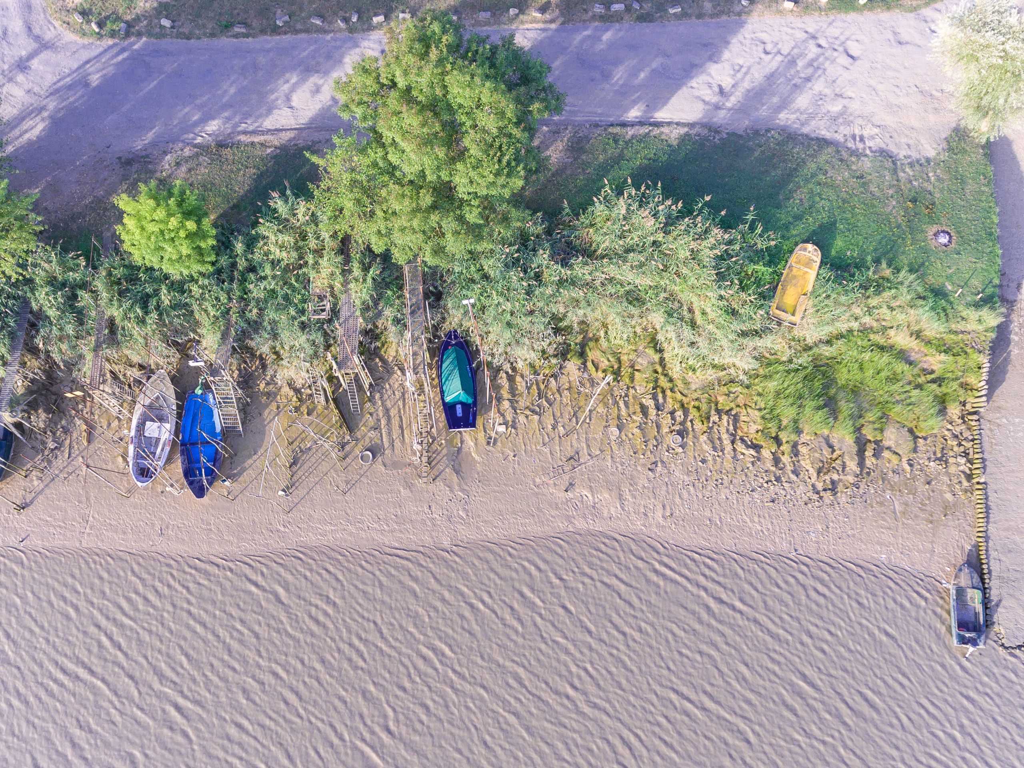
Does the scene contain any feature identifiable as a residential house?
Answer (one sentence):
No, there isn't any residential house down there.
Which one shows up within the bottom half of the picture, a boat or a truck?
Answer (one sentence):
There is a boat within the bottom half of the picture.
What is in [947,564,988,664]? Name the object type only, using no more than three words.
boat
